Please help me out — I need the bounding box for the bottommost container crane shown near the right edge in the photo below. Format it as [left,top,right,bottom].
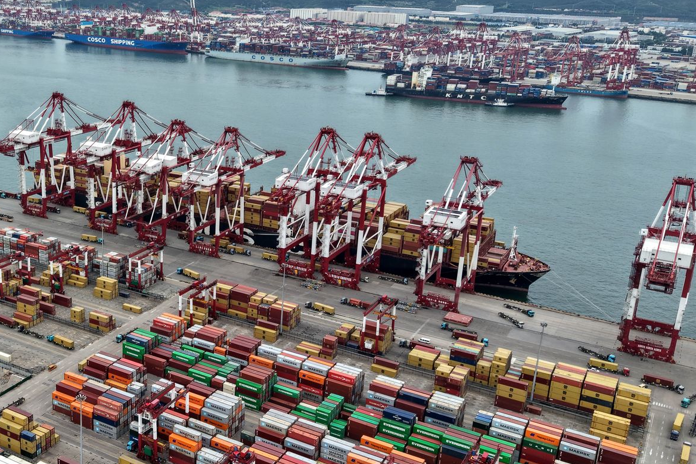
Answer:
[611,178,696,363]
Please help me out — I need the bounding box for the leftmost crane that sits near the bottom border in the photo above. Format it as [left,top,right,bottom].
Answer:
[131,379,191,464]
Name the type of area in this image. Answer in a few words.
port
